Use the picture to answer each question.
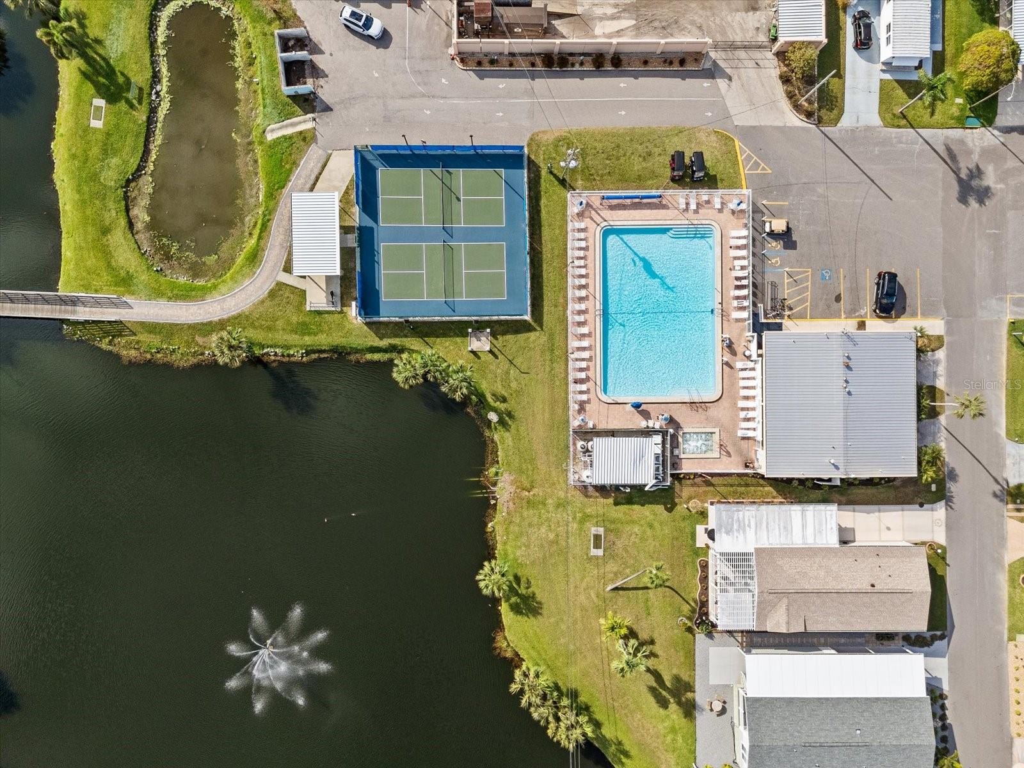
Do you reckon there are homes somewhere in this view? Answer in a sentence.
Yes, the photo shows a home.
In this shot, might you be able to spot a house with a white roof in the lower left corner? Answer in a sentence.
No, no house with a white roof appears in the lower left corner.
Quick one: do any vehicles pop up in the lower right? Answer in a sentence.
No, no vehicle can be made out in the lower right.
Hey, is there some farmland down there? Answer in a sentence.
No, the scene doesn't show any farmland.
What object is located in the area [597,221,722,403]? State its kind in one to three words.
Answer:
swimming pool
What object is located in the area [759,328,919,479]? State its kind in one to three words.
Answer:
building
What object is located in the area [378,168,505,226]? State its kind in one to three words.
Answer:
sports court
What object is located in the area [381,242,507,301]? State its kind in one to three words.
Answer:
sports court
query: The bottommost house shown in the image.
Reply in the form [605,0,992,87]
[730,651,935,768]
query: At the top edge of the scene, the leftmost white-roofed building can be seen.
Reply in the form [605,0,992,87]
[765,0,827,56]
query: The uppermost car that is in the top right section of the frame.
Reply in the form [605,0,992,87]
[853,8,877,49]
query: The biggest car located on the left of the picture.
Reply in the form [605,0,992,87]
[338,3,384,38]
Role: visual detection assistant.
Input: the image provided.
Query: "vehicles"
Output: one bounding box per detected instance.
[671,150,688,180]
[689,150,708,182]
[853,8,877,49]
[763,216,791,232]
[876,271,903,317]
[338,3,384,38]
